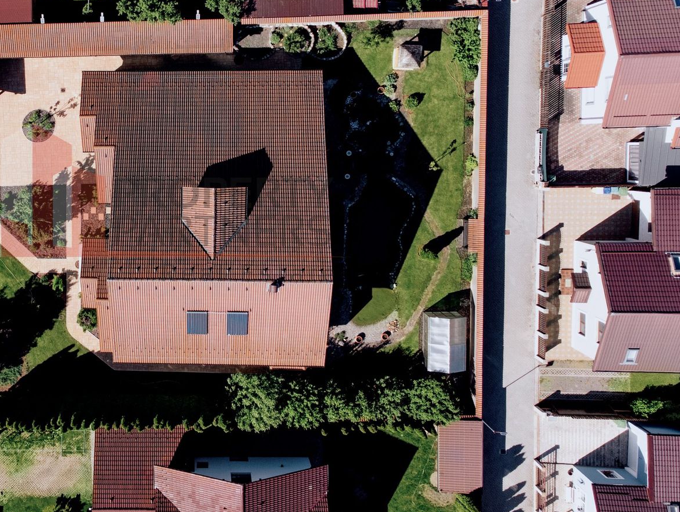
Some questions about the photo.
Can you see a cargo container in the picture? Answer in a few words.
No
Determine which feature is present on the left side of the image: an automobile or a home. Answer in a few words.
home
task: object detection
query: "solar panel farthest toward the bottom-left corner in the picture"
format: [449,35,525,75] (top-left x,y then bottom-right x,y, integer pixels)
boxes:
[187,312,208,336]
